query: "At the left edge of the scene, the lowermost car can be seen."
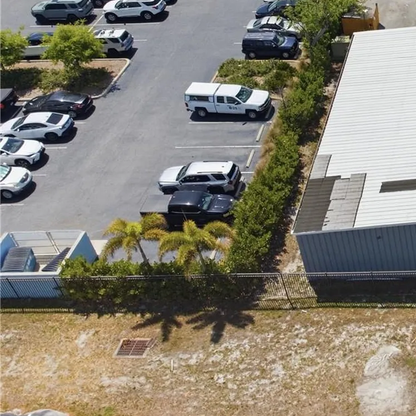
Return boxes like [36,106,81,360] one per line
[0,164,40,199]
